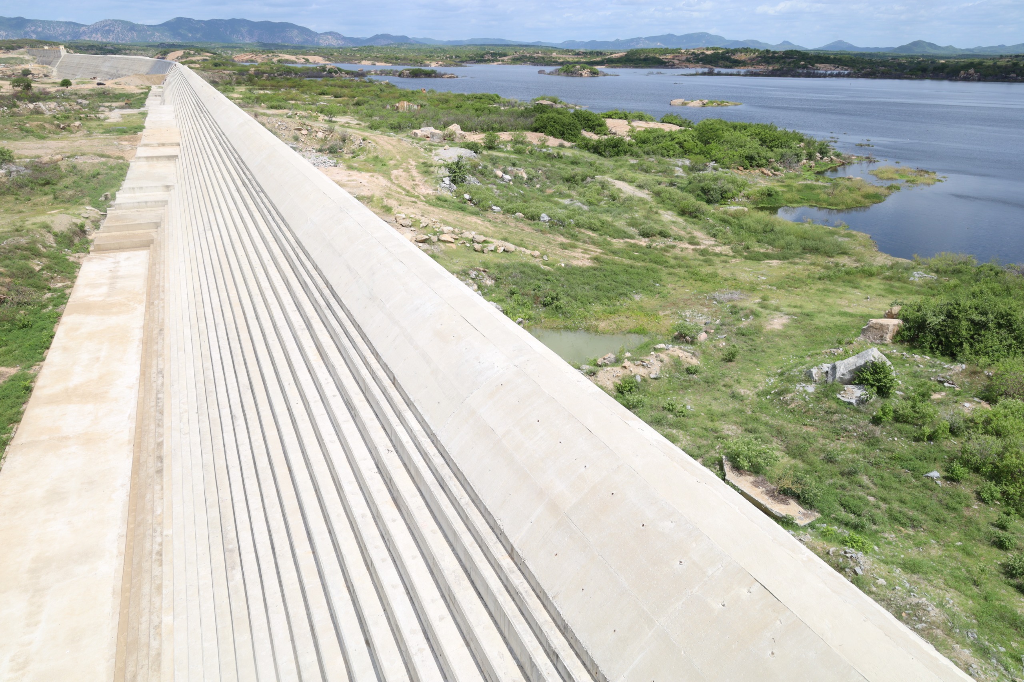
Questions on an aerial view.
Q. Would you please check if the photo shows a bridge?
No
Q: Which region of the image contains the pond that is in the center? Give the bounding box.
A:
[524,327,639,367]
